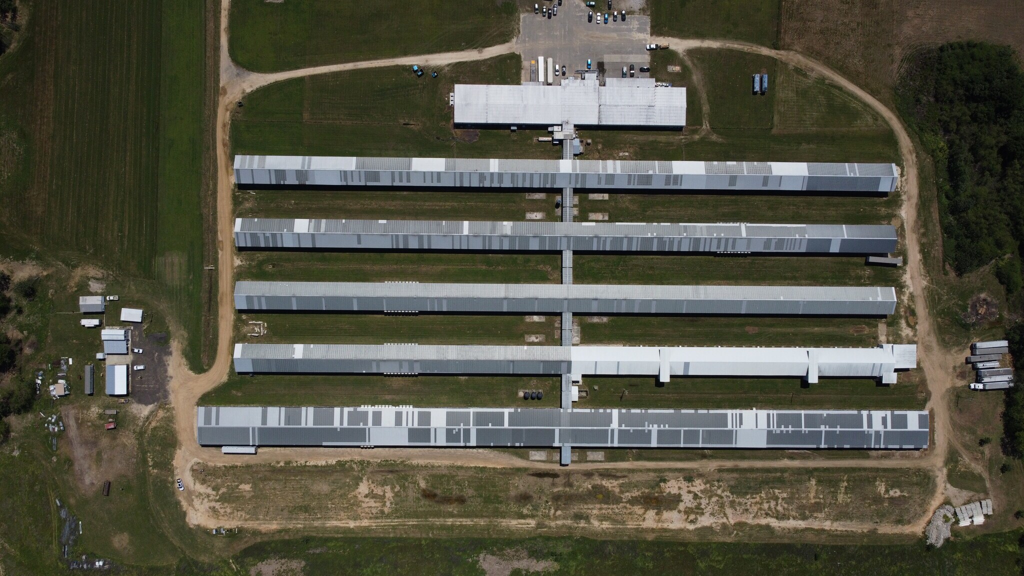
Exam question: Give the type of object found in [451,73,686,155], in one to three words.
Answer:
house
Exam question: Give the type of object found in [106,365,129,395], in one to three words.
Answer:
building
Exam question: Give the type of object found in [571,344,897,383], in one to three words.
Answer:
house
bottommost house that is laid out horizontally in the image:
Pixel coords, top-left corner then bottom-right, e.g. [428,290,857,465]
[196,406,931,448]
